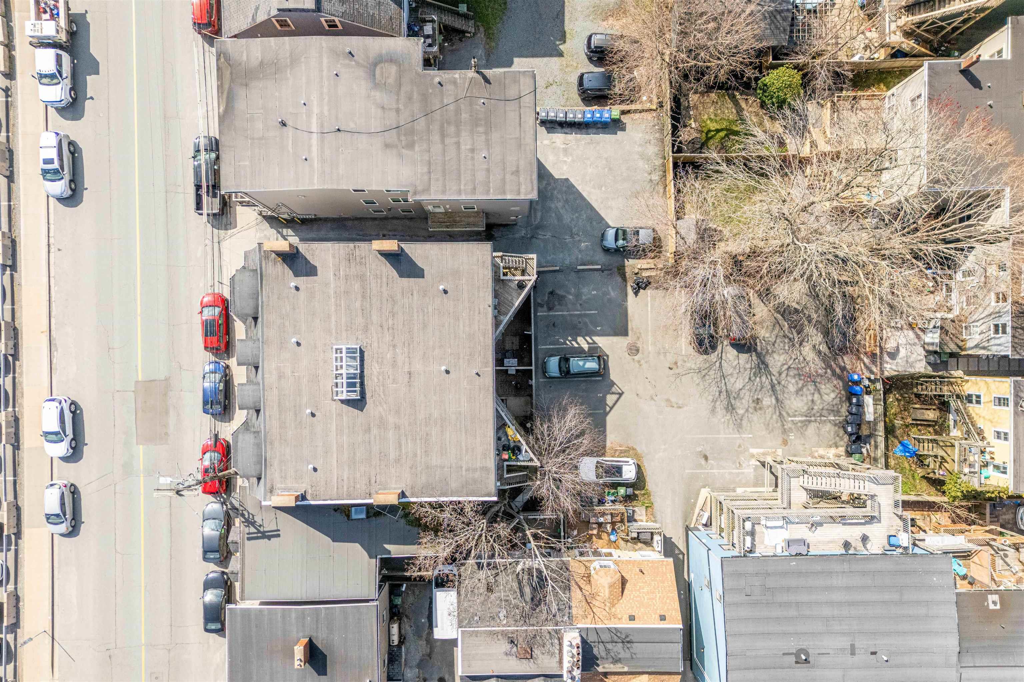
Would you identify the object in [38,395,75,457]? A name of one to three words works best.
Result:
car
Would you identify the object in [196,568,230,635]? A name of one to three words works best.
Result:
car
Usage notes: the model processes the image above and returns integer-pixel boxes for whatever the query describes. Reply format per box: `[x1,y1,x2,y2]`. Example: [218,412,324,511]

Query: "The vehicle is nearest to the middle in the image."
[543,350,604,382]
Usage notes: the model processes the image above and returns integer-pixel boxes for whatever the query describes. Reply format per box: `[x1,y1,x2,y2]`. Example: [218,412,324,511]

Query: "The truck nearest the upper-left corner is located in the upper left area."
[22,0,76,108]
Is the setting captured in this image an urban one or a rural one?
urban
